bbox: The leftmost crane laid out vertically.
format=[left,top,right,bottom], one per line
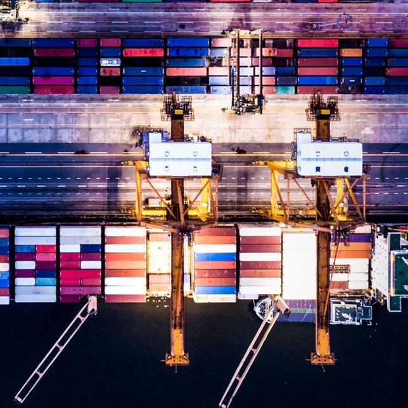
[123,85,225,378]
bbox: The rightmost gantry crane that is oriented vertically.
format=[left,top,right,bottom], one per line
[254,85,373,378]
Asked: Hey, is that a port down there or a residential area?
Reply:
port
